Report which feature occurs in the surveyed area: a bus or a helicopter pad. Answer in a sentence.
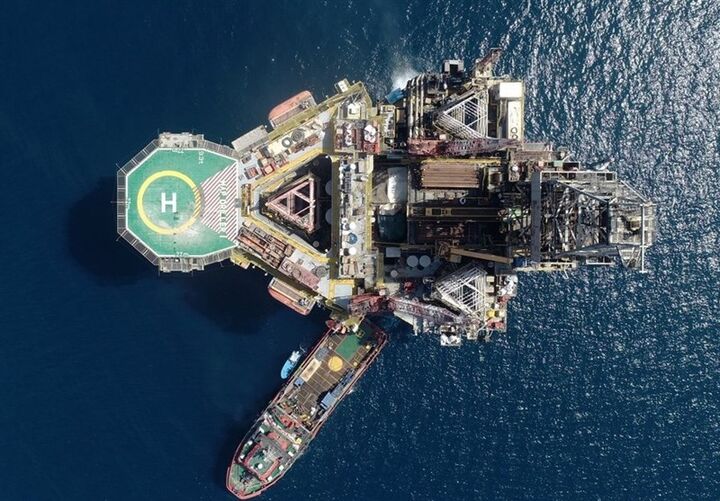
I can see a helicopter pad in this picture.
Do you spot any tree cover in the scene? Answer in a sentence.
No, there's no tree cover in this view.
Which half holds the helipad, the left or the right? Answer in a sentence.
The helipad appears in the left half of the scene.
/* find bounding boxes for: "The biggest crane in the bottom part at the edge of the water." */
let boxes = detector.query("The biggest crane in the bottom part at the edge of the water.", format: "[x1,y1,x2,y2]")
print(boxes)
[365,287,469,323]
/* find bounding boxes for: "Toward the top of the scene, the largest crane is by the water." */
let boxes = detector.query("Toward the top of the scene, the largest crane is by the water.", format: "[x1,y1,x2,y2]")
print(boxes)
[391,134,520,165]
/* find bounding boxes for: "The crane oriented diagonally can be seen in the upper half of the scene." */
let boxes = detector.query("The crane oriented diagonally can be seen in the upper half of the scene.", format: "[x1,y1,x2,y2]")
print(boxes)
[470,47,503,83]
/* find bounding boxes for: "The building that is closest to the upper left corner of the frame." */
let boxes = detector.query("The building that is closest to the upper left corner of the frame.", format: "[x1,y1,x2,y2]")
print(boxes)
[231,124,271,157]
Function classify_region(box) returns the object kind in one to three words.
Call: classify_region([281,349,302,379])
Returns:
boat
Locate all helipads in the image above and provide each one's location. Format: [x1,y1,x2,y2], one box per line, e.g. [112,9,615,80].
[115,132,240,273]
